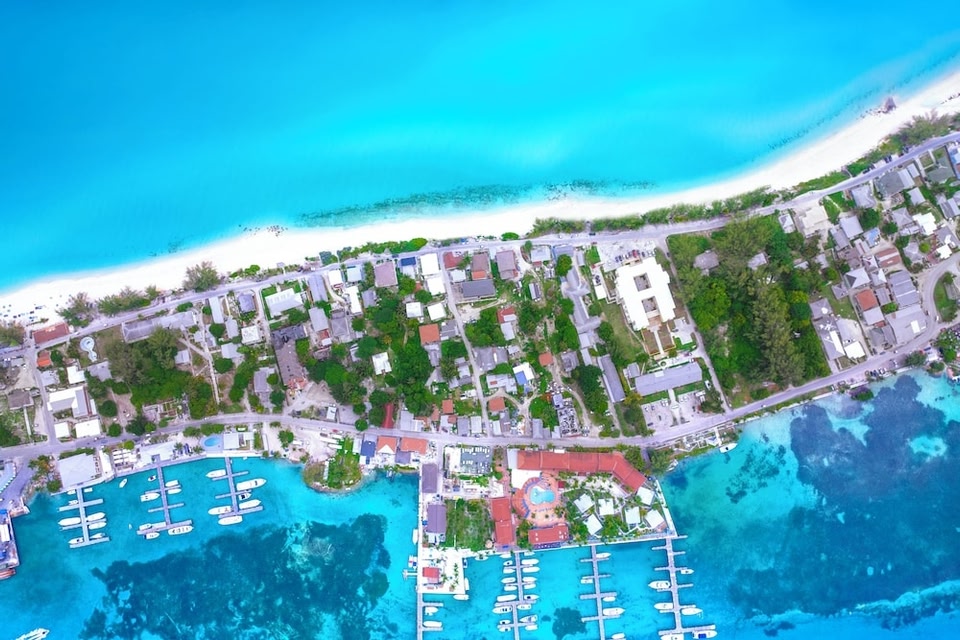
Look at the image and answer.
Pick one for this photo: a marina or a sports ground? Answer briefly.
marina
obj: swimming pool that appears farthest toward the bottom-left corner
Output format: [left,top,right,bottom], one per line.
[200,435,224,451]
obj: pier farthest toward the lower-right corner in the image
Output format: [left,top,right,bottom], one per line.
[651,534,716,636]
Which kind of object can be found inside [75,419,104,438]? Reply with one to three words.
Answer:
building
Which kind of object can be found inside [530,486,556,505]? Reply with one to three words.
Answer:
swimming pool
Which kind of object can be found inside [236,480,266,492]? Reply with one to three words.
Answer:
boat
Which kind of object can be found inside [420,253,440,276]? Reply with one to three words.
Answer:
house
